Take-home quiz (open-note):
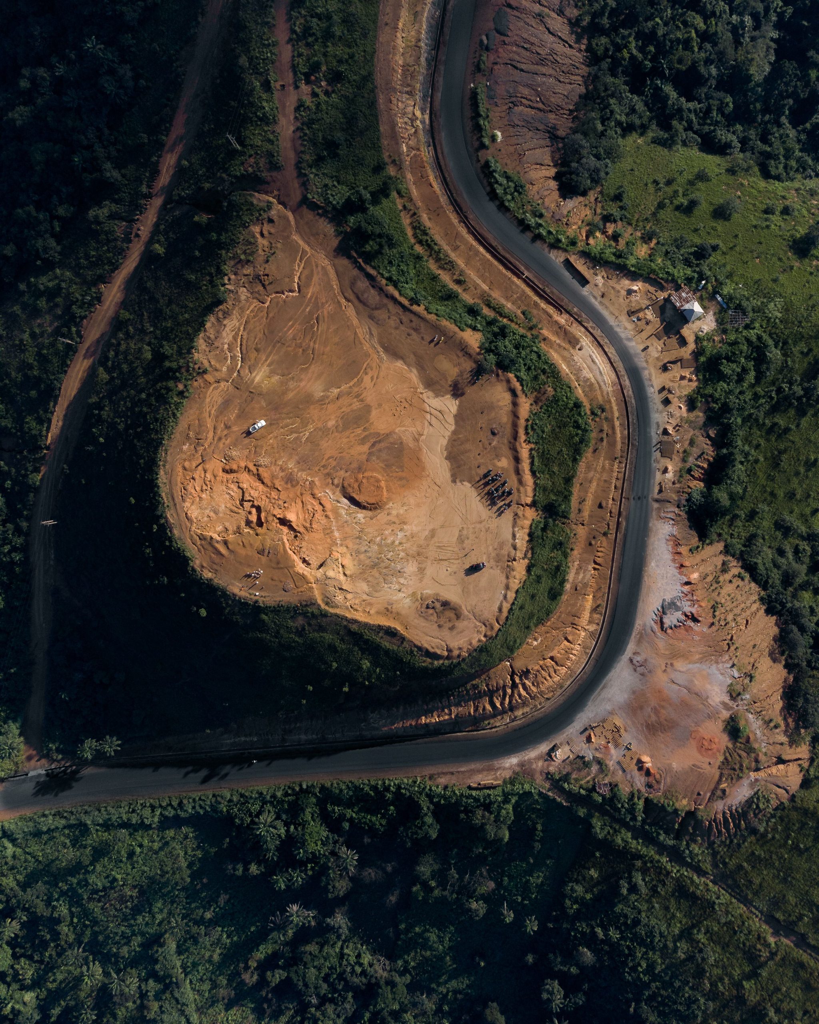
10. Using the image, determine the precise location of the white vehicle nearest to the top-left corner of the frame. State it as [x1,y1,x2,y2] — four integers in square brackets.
[247,419,267,435]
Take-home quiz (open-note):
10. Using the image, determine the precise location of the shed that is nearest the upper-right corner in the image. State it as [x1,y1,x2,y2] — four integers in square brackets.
[668,286,707,322]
